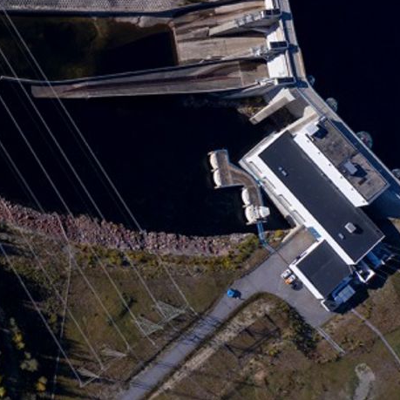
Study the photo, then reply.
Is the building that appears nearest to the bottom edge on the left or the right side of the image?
right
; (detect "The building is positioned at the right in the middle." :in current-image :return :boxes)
[237,115,390,311]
